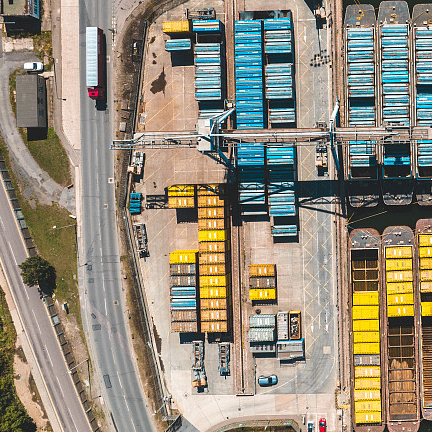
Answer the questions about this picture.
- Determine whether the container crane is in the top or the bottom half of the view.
top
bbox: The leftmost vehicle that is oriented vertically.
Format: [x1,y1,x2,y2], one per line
[85,23,103,97]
